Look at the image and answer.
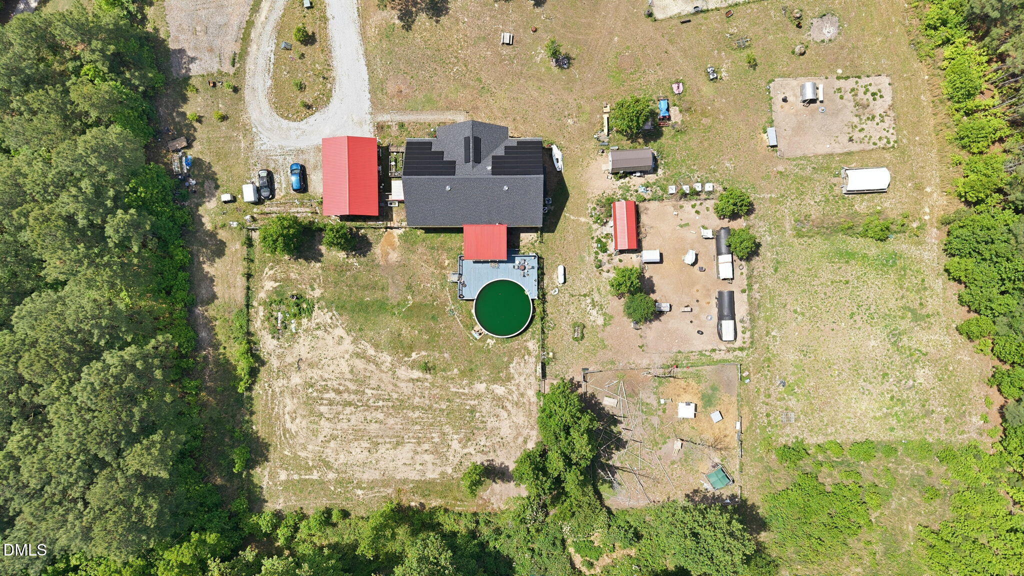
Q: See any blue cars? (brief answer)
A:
Yes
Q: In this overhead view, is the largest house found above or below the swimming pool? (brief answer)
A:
above it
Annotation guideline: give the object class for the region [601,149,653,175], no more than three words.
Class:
shed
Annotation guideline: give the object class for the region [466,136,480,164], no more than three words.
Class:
solar array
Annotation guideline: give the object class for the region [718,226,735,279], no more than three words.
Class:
house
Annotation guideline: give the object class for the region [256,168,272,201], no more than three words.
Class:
car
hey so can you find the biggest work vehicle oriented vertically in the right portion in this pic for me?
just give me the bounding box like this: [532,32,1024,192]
[657,92,672,125]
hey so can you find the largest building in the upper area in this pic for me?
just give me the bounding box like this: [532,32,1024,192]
[402,121,544,227]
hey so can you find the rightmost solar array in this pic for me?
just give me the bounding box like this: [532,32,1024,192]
[492,140,543,174]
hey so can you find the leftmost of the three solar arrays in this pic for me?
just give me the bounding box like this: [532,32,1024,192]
[403,141,455,174]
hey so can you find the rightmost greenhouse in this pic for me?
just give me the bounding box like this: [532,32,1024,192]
[843,167,897,193]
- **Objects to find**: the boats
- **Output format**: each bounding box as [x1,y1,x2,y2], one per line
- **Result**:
[553,145,566,172]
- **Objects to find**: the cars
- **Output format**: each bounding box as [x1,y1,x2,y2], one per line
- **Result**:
[256,168,272,201]
[289,163,305,193]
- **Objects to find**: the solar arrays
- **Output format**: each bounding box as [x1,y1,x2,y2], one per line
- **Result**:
[466,136,480,164]
[403,141,455,174]
[492,140,543,174]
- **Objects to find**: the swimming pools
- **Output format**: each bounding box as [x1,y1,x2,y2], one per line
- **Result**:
[473,278,533,339]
